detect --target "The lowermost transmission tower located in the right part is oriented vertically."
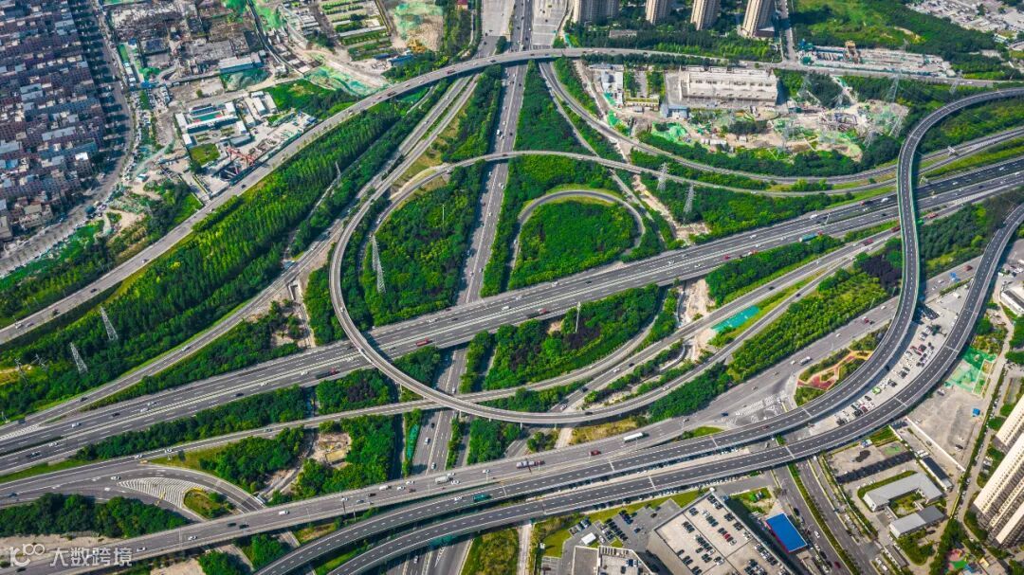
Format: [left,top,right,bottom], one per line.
[682,183,694,220]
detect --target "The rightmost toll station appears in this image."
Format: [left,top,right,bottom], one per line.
[532,0,563,49]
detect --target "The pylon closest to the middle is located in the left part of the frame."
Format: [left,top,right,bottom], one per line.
[370,235,389,294]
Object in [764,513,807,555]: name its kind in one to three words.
building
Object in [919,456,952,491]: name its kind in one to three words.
shed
